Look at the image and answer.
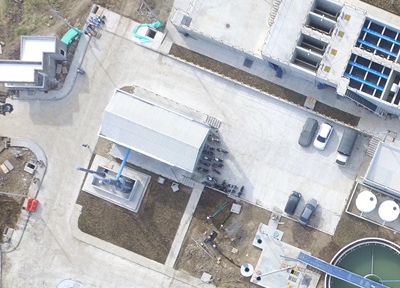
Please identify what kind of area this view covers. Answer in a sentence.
This looks like an industrial area.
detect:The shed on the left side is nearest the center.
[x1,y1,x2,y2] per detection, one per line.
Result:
[98,89,211,175]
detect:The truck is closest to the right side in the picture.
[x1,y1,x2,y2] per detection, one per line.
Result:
[332,123,359,167]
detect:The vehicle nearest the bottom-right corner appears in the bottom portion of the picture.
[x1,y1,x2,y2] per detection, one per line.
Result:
[297,198,318,228]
